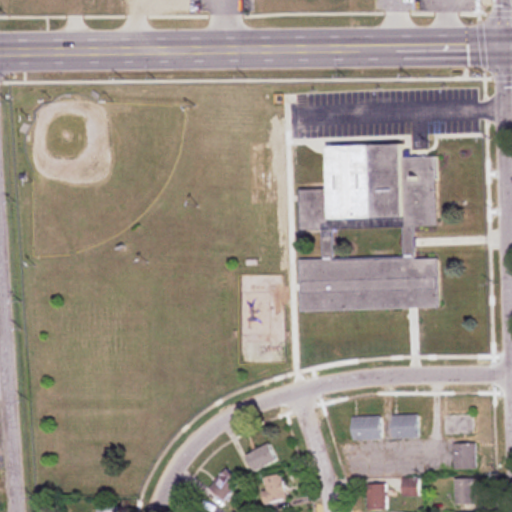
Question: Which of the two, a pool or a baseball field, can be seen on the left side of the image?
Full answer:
Looking on the left side of the image, you will find a baseball field.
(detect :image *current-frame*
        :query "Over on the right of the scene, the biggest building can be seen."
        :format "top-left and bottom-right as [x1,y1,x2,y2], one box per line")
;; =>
[298,144,442,310]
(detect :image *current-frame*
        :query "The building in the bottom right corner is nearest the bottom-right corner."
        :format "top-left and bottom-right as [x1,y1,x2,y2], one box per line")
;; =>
[454,482,478,506]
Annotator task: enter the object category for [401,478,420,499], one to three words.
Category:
building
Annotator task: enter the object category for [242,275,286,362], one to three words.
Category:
sports court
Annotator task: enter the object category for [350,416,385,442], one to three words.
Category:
house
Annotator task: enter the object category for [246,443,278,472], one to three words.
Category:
house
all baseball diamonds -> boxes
[32,96,186,256]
